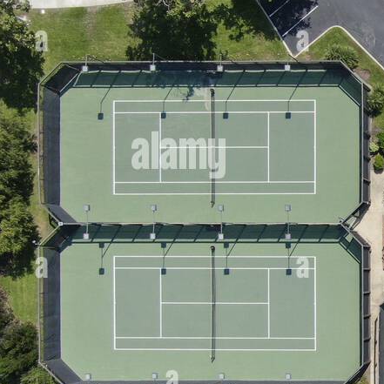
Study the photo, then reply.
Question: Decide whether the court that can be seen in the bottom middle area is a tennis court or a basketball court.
tennis court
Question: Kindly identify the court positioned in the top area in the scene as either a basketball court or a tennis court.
tennis court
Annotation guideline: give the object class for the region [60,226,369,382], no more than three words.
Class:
tennis court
